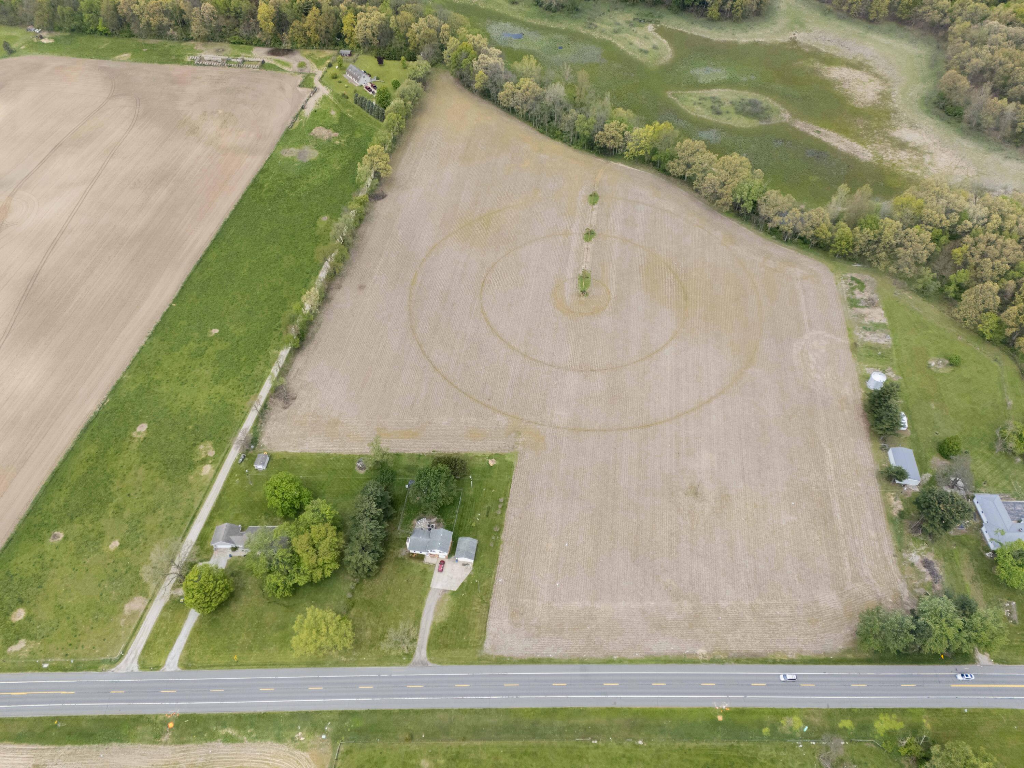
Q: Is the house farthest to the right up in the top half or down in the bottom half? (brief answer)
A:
bottom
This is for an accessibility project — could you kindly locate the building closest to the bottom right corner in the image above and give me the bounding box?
[974,495,1024,551]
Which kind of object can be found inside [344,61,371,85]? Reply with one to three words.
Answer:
house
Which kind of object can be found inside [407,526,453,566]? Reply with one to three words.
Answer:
house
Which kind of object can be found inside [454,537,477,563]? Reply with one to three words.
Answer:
building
